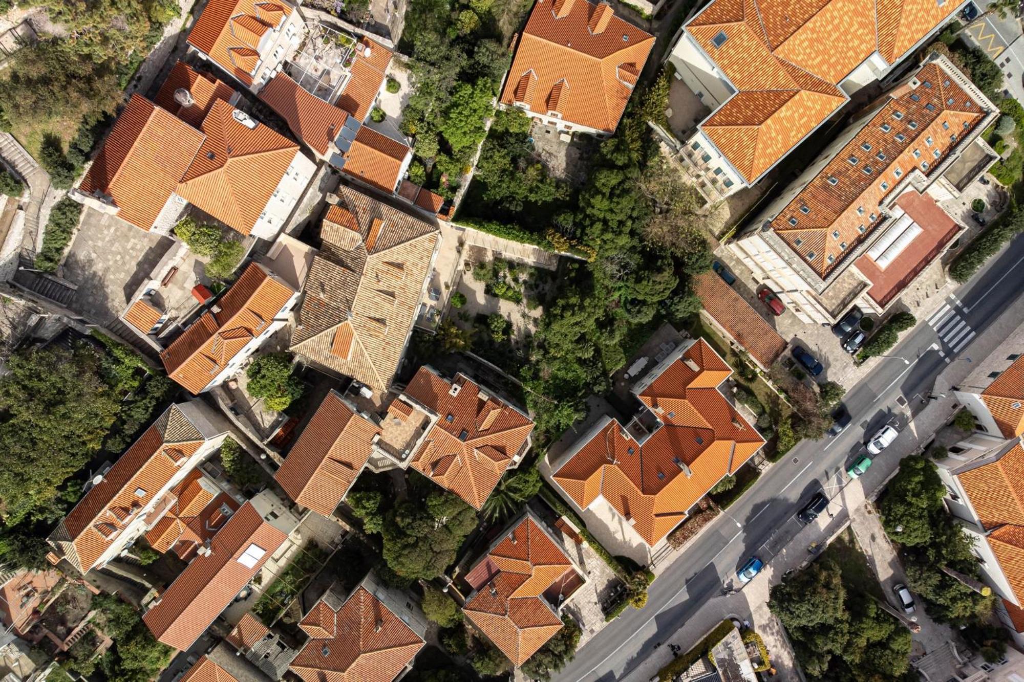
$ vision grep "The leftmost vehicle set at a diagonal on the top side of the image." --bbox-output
[707,256,739,289]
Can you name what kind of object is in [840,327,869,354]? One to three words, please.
car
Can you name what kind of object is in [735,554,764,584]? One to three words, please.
car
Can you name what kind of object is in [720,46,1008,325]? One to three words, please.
building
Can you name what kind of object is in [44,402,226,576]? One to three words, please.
house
